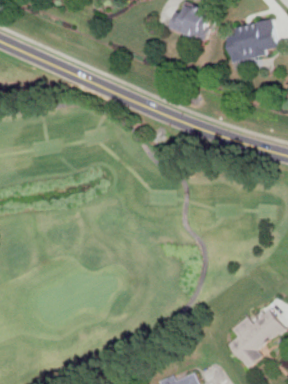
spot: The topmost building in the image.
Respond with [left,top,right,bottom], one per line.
[168,0,212,40]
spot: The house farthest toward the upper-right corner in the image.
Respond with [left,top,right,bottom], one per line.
[226,19,278,64]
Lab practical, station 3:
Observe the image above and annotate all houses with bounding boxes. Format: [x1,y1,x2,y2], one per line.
[158,374,200,384]
[168,0,212,40]
[226,19,278,64]
[228,309,286,370]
